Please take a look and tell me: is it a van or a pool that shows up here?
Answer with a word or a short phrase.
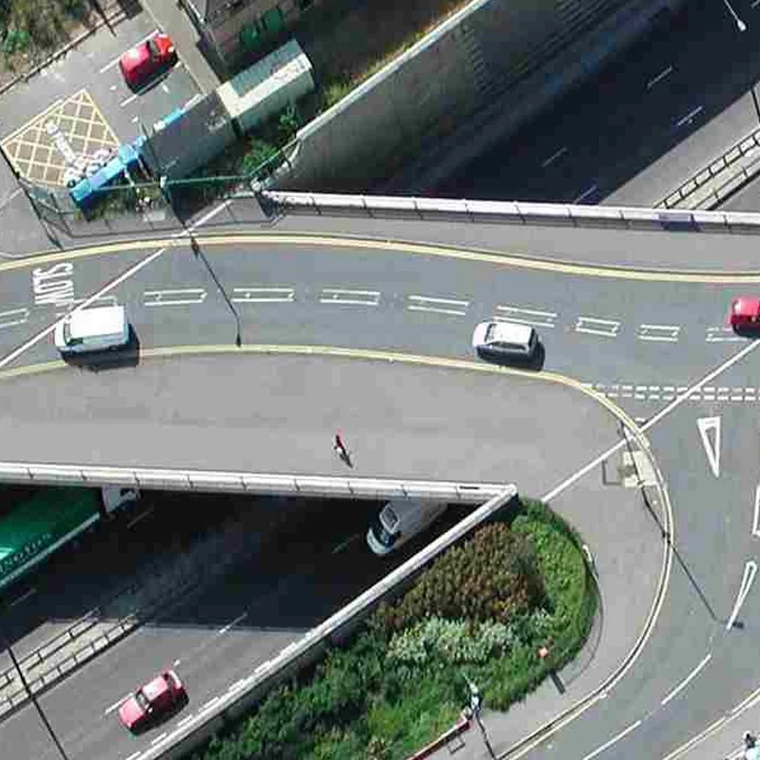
van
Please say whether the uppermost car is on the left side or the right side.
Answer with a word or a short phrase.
left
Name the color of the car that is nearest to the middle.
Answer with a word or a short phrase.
white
